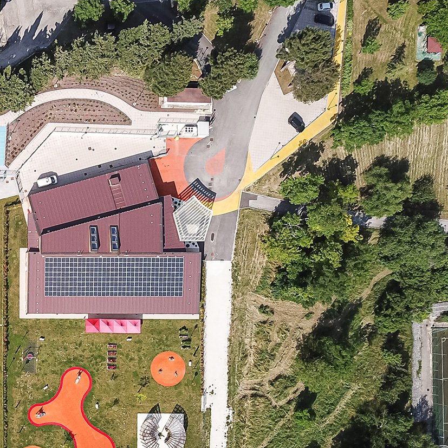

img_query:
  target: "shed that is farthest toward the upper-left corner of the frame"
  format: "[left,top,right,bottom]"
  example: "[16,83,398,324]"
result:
[157,85,211,110]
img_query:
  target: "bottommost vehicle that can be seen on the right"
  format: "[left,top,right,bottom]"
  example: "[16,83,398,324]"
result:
[291,111,307,132]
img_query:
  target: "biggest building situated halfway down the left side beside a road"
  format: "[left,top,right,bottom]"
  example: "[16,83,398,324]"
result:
[26,163,208,314]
